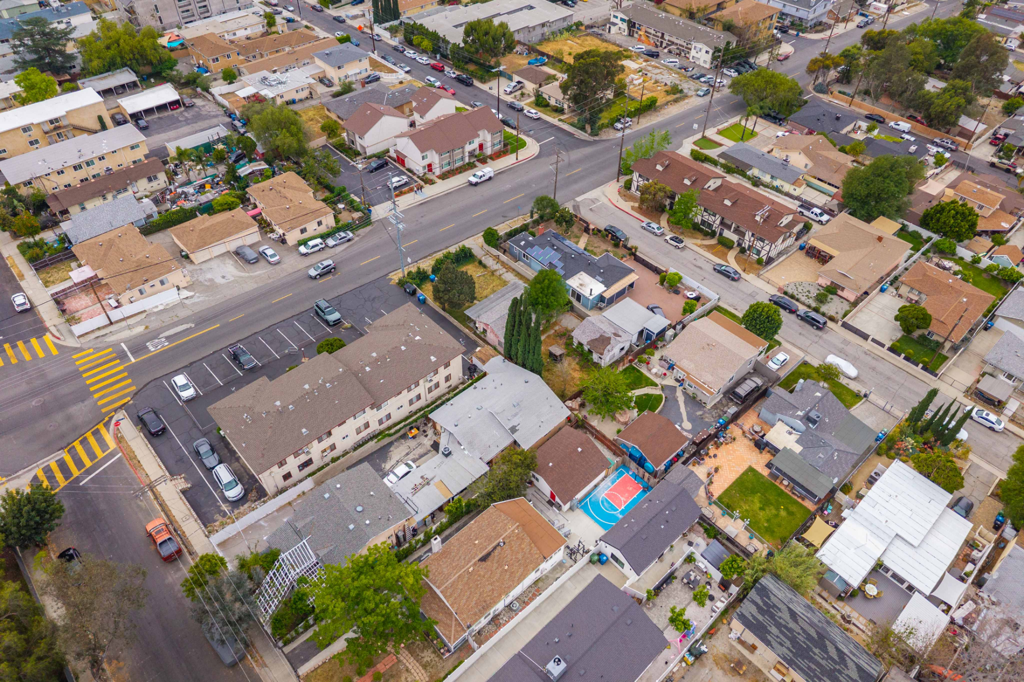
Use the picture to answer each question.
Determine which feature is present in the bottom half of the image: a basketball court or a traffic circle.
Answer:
basketball court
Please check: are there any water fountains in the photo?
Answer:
No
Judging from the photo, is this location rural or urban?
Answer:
urban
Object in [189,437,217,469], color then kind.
gray car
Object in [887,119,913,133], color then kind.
white vehicle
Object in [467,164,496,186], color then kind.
white vehicle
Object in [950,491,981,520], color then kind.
gray car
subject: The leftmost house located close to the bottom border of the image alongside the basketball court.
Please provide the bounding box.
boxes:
[420,499,568,651]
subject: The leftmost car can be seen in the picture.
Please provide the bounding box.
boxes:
[10,292,31,314]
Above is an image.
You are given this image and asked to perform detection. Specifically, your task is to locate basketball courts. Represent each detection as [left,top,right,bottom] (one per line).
[579,465,651,531]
